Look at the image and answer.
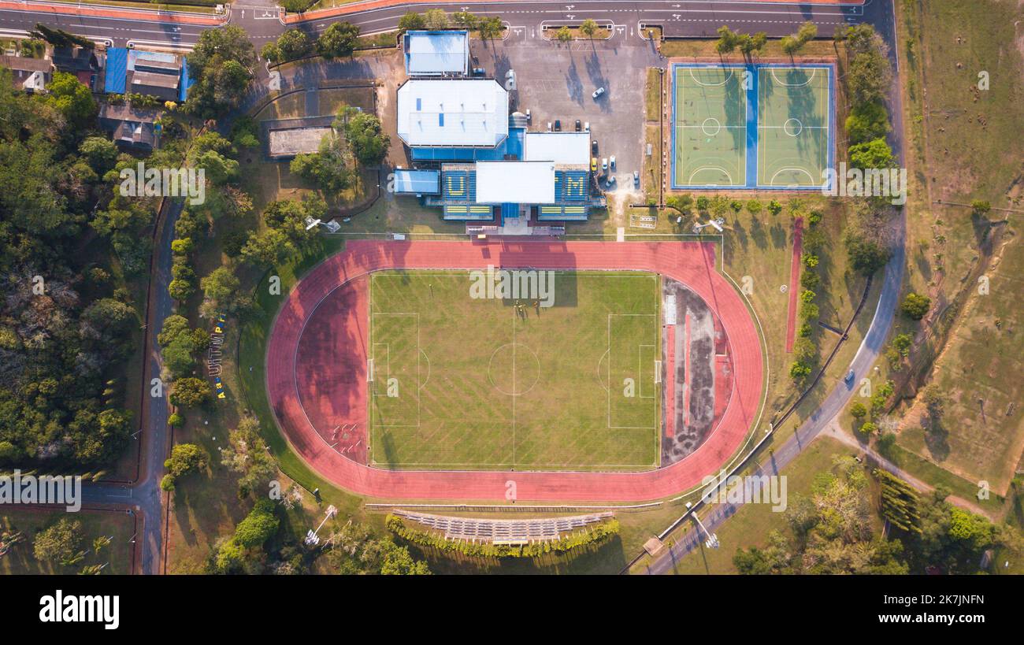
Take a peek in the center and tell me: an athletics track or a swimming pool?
athletics track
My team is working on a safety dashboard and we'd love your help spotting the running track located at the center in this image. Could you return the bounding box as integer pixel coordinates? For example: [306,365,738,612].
[265,239,763,500]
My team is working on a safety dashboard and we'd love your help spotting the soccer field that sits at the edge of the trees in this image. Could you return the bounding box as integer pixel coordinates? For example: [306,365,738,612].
[370,269,660,471]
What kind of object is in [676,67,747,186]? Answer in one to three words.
sports court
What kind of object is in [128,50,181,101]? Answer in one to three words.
house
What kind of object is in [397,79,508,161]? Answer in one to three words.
building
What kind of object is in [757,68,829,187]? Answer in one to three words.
sports court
